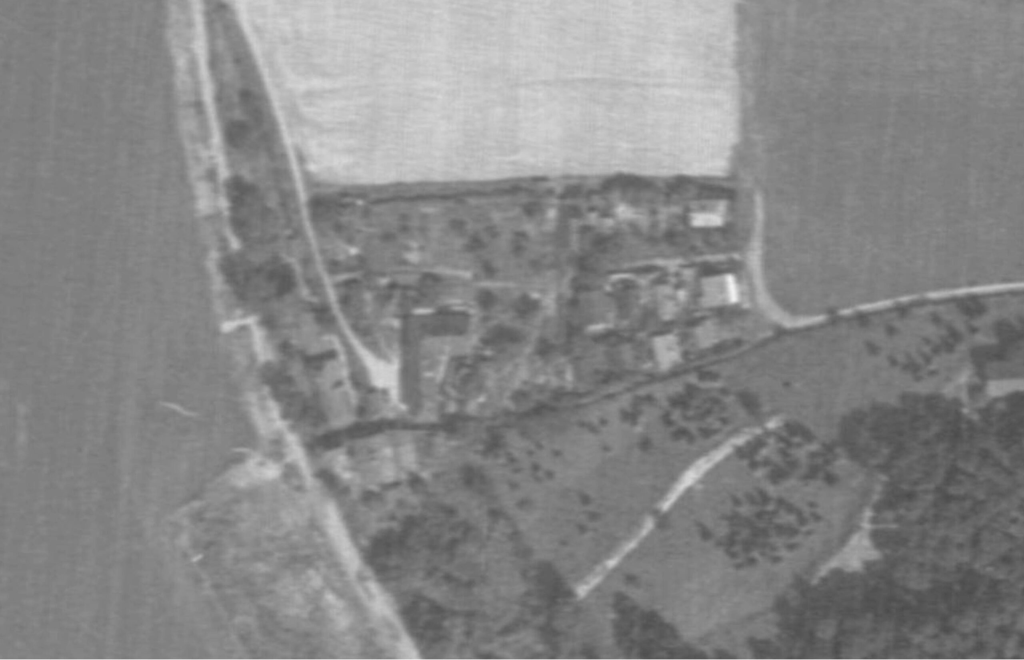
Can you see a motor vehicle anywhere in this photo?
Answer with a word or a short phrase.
No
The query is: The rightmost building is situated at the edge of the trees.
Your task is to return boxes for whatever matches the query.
[987,361,1024,397]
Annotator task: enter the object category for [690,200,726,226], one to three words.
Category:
house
